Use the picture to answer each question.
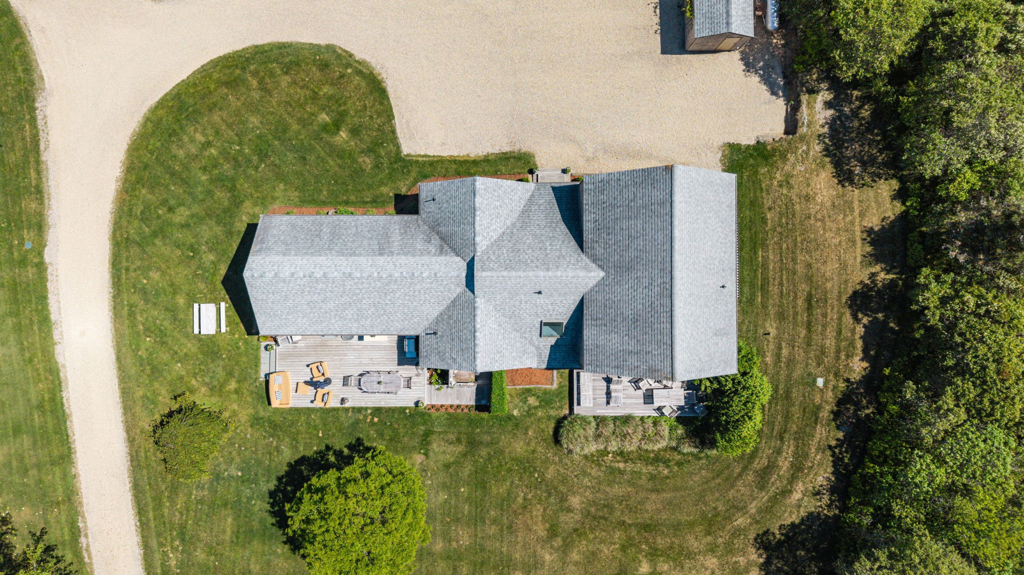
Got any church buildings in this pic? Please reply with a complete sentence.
No, no church building is visible in the view.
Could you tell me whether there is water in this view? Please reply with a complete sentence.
No, no water is visible.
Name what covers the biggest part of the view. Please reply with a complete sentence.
The largest share of the image is taken up by grass.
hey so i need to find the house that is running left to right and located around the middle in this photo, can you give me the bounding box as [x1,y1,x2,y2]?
[242,164,740,381]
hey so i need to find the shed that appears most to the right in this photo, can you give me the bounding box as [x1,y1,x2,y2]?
[686,0,755,51]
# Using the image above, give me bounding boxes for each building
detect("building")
[242,164,740,381]
[686,0,755,51]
